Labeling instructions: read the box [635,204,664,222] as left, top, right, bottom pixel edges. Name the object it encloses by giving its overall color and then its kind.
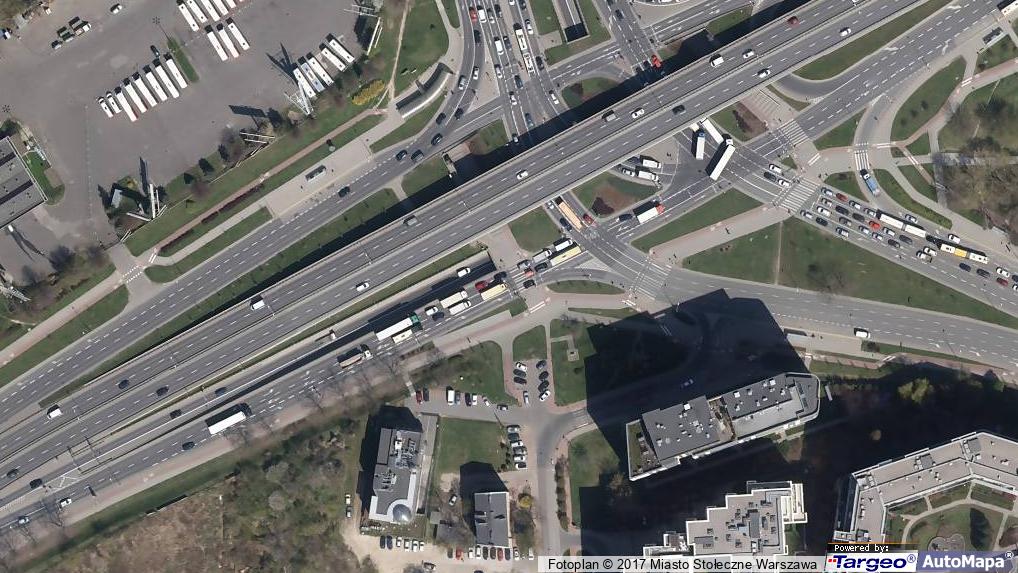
white vehicle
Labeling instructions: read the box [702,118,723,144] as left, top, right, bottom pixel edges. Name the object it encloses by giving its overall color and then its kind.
white bus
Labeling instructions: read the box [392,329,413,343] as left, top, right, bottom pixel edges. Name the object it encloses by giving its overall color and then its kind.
white vehicle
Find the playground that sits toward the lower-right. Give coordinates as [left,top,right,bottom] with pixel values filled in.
[930,535,965,573]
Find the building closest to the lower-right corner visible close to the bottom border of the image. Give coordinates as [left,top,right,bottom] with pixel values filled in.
[828,433,1018,573]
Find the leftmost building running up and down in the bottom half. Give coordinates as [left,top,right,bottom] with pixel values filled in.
[369,429,422,528]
